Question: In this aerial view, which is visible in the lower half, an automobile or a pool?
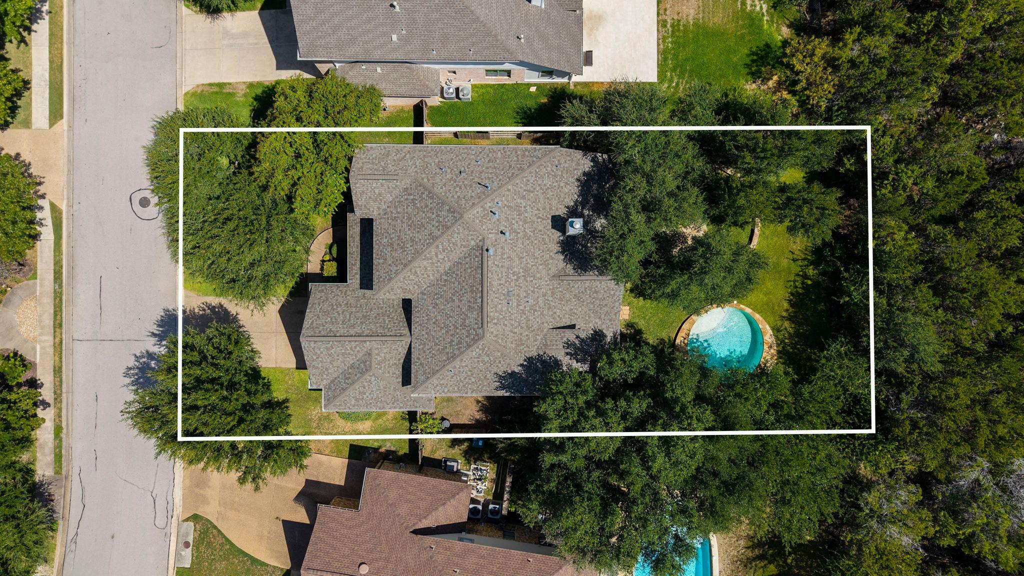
pool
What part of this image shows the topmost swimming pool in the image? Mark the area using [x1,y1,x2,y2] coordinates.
[675,301,776,401]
